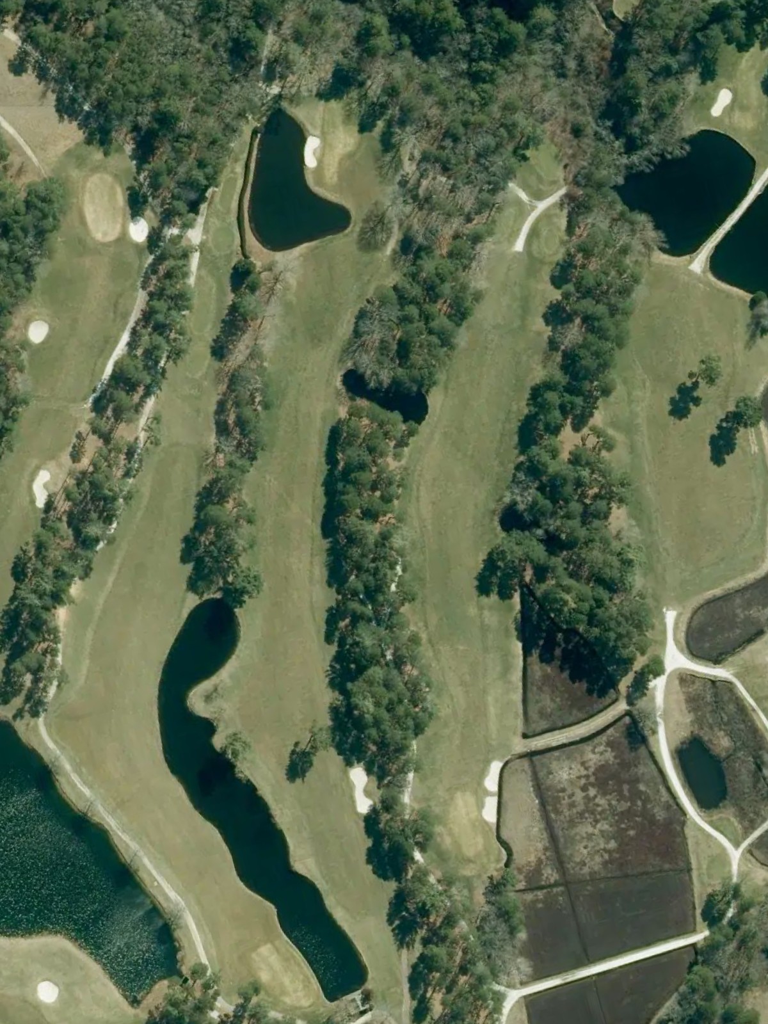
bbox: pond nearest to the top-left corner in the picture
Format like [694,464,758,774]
[247,108,351,250]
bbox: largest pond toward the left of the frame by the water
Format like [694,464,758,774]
[158,598,369,1002]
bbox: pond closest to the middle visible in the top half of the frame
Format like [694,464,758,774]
[343,364,429,424]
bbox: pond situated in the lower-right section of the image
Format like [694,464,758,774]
[679,736,726,809]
